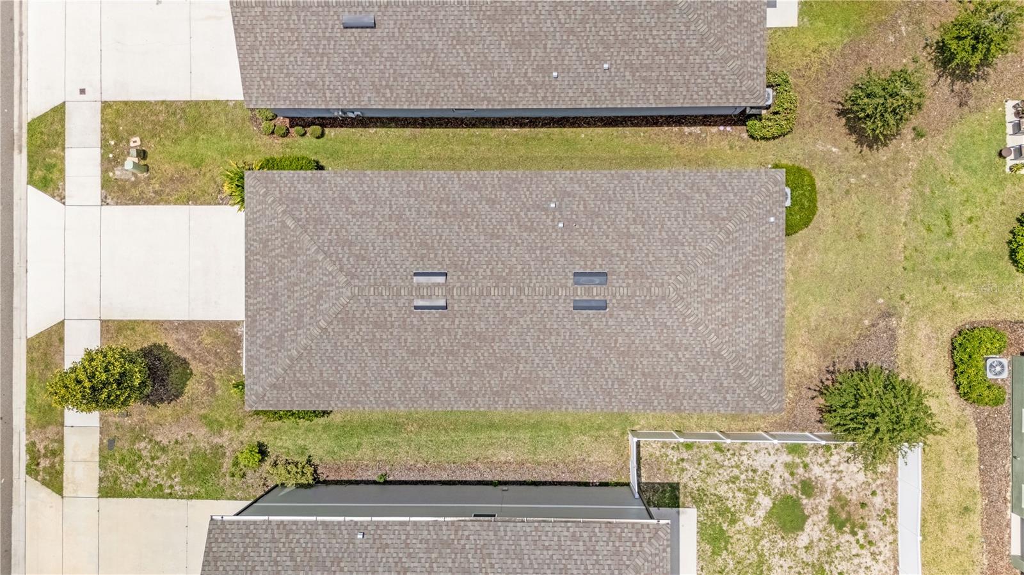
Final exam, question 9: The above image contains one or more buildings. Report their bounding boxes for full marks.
[1012,356,1024,575]
[230,0,767,123]
[202,485,670,575]
[245,169,785,412]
